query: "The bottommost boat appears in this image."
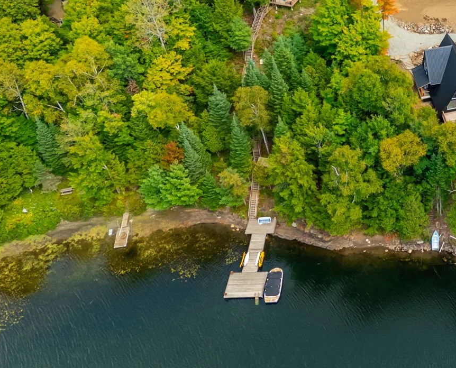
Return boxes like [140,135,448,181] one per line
[262,265,282,302]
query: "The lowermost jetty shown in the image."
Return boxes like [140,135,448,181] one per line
[223,272,269,299]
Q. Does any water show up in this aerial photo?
Yes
